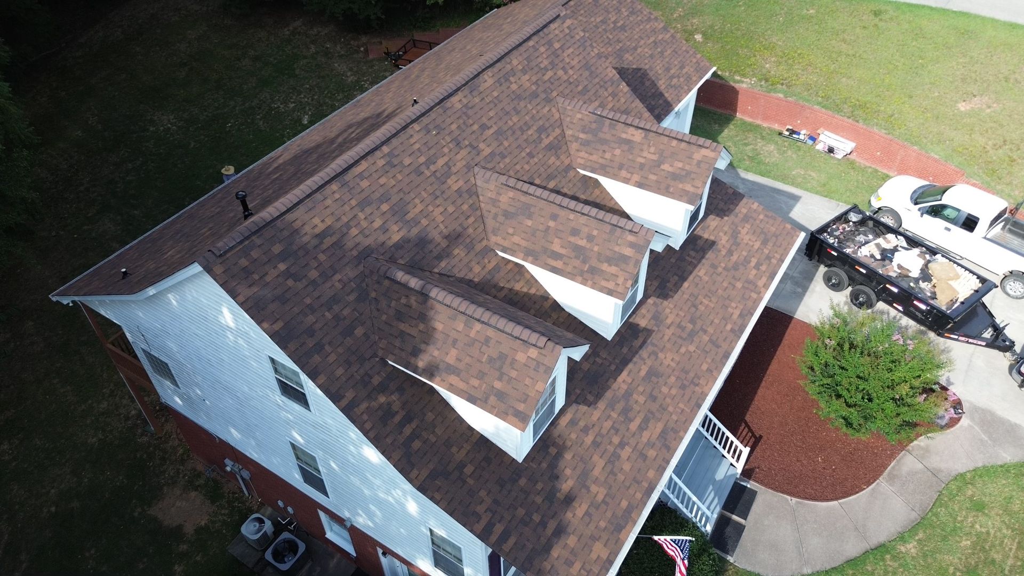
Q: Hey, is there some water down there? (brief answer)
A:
No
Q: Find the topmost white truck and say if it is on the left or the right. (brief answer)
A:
right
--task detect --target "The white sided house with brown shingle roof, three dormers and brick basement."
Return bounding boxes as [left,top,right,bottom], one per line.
[47,0,806,576]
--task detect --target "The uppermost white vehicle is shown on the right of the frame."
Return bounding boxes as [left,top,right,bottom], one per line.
[863,170,1024,299]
